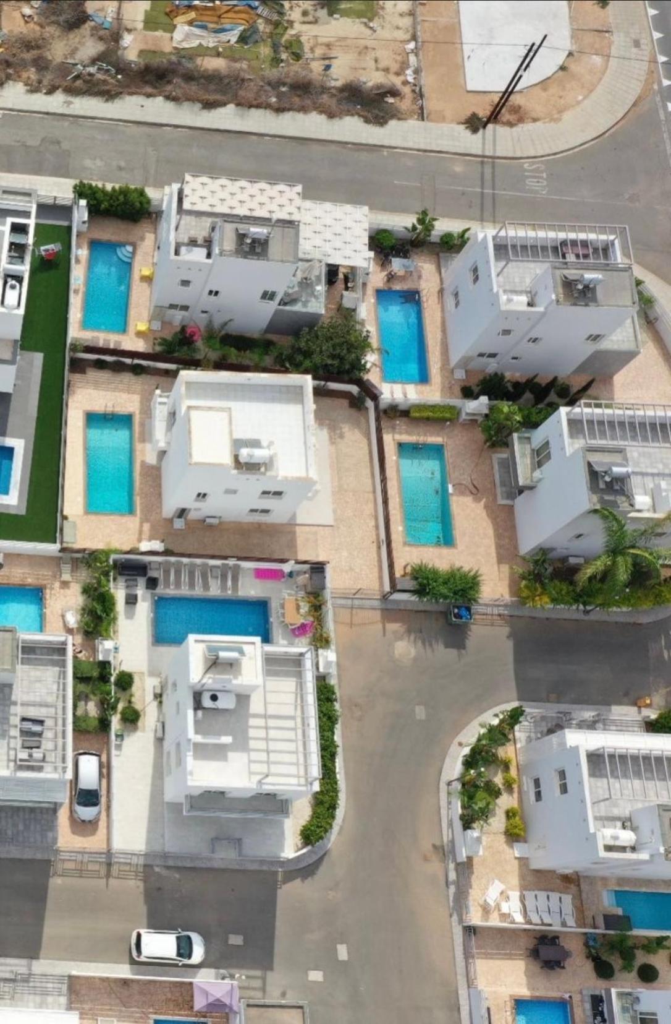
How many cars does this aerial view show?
two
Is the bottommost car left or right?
left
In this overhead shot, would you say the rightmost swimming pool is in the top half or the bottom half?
bottom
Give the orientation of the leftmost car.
from top to bottom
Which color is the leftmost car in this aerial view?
white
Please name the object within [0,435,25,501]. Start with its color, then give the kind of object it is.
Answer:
white swimming pool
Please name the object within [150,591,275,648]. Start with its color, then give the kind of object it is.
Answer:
blue swimming pool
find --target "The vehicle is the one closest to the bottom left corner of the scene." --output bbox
[131,928,205,967]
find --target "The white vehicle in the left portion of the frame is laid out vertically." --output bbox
[70,750,105,823]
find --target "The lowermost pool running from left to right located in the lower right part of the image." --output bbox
[511,994,581,1024]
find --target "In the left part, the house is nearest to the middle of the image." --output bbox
[149,371,317,524]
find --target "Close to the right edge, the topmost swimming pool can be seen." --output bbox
[608,884,671,935]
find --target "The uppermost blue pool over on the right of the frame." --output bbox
[373,285,434,385]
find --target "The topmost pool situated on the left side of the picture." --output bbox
[79,236,137,336]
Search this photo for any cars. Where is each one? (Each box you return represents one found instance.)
[131,928,205,967]
[70,750,105,823]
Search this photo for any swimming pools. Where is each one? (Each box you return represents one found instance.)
[394,433,459,549]
[373,285,434,385]
[608,884,671,935]
[511,994,581,1024]
[150,591,275,648]
[0,435,25,501]
[0,582,47,634]
[82,403,138,518]
[79,236,137,336]
[150,1014,215,1024]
